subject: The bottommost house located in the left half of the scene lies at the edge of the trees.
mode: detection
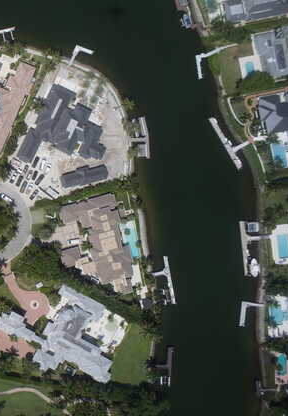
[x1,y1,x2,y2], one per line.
[0,284,114,383]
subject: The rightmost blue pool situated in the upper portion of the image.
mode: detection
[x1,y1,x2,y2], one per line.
[271,143,288,168]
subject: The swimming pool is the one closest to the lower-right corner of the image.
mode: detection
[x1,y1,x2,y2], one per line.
[274,352,287,376]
